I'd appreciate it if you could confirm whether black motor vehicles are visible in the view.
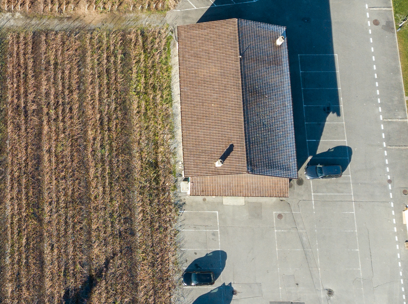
Yes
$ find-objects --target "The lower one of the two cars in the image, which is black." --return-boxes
[183,269,218,288]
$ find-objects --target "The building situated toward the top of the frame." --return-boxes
[177,18,300,179]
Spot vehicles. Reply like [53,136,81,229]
[183,269,218,288]
[307,164,348,182]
